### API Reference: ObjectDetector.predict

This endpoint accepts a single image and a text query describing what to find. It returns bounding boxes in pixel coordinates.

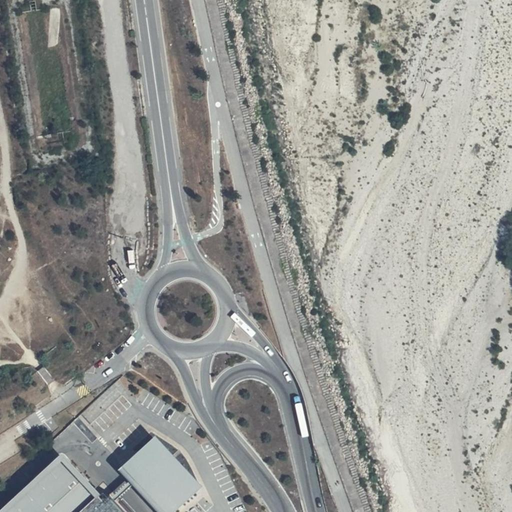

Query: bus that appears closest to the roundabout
[229,311,256,338]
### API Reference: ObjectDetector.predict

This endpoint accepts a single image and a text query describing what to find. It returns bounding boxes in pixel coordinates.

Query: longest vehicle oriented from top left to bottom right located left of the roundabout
[108,260,128,283]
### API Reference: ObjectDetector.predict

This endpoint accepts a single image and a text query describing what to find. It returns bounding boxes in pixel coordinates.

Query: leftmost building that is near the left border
[0,452,100,512]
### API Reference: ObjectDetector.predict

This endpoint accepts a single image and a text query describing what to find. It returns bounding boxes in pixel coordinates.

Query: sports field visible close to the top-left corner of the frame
[27,8,72,130]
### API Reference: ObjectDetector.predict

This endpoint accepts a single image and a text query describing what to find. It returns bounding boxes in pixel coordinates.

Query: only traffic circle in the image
[140,264,233,358]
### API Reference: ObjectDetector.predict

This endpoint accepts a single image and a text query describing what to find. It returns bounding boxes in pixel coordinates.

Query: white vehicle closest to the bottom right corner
[292,396,309,440]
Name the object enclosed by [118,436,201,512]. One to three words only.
building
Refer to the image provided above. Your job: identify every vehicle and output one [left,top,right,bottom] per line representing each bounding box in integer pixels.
[93,360,104,369]
[292,396,309,440]
[122,335,136,348]
[226,493,238,502]
[128,250,136,270]
[264,346,275,358]
[114,344,125,355]
[108,260,128,283]
[234,504,246,512]
[101,367,114,378]
[118,287,128,298]
[164,408,173,420]
[314,496,322,509]
[114,437,124,448]
[111,275,122,288]
[104,352,114,362]
[283,371,292,384]
[229,311,256,338]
